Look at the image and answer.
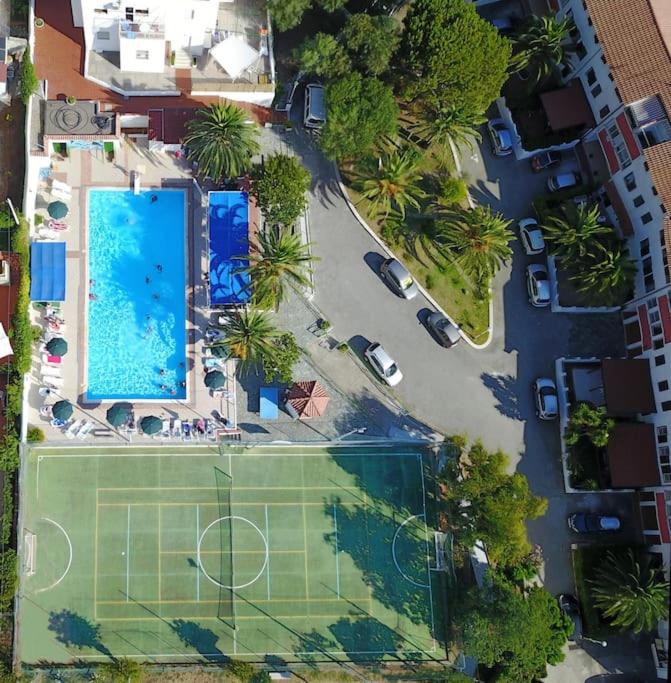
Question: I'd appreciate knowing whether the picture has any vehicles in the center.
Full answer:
Yes, a vehicle is visible in the center.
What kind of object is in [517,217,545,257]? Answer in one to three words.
car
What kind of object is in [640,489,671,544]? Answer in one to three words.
house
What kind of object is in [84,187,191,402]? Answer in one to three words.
swimming pool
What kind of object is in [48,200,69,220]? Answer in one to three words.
umbrella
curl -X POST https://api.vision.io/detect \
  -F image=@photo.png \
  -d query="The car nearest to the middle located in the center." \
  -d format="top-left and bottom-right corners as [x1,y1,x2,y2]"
[363,341,404,388]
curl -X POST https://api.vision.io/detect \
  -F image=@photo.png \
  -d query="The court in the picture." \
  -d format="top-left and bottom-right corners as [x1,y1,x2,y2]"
[21,443,447,662]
